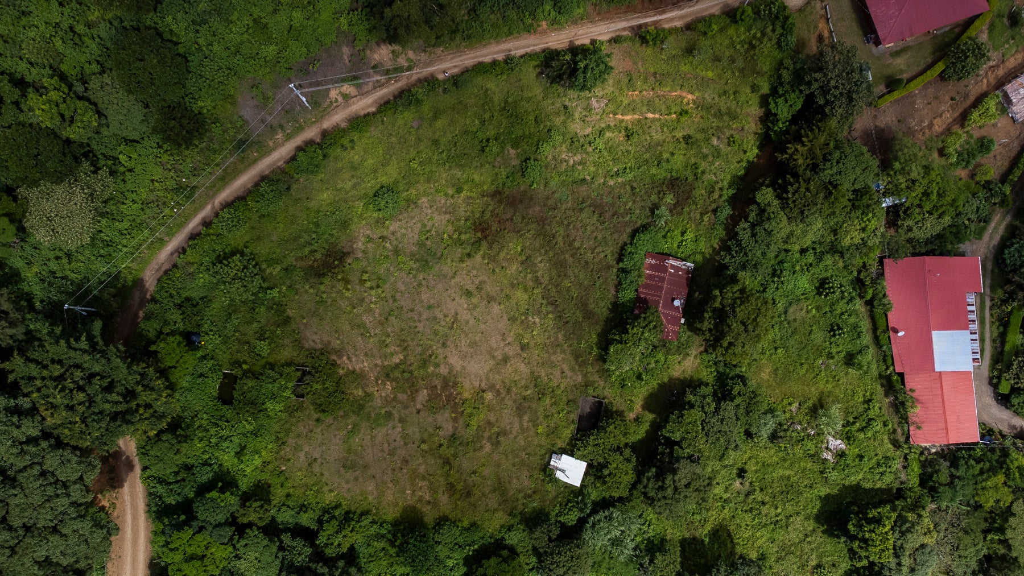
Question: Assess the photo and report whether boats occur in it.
No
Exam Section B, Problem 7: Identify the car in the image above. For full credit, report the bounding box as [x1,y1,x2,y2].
[861,34,882,50]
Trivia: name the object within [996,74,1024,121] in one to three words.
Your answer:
shed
